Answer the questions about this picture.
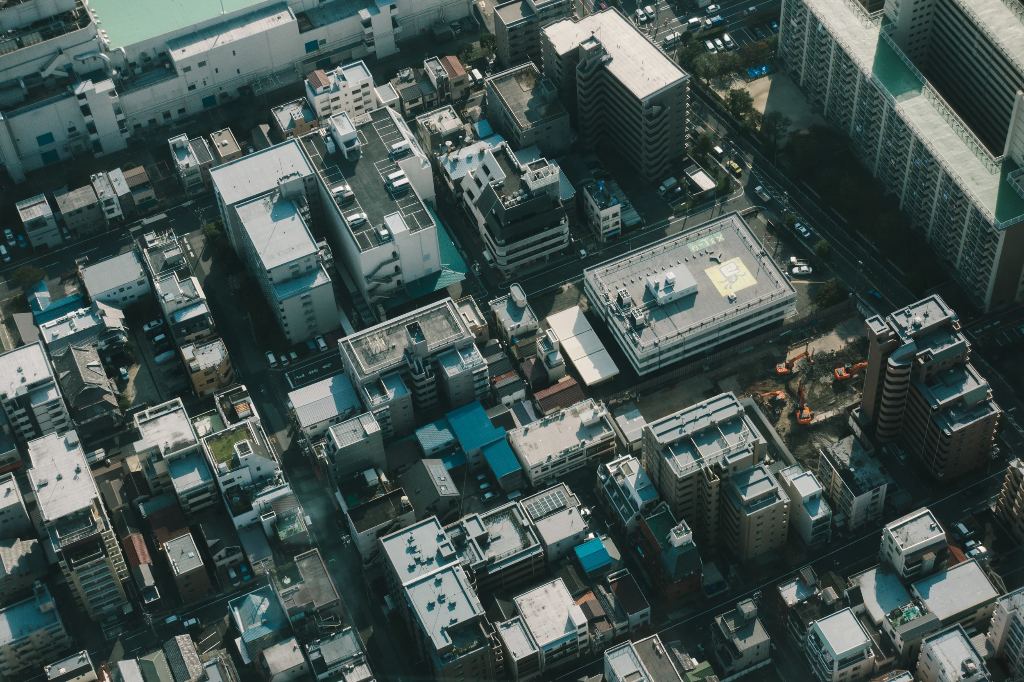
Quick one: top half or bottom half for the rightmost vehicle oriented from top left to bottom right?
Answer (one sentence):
Seen from above, the rightmost vehicle oriented from top left to bottom right lies in the bottom half of the view.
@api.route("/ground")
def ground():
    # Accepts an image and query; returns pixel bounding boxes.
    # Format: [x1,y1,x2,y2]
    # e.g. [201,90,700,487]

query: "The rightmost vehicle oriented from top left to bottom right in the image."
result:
[950,517,973,539]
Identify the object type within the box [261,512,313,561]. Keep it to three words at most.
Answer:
house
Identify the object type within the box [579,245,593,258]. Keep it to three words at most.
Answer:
vehicle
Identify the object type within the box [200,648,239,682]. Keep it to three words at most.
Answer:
shed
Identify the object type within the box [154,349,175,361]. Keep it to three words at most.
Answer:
vehicle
